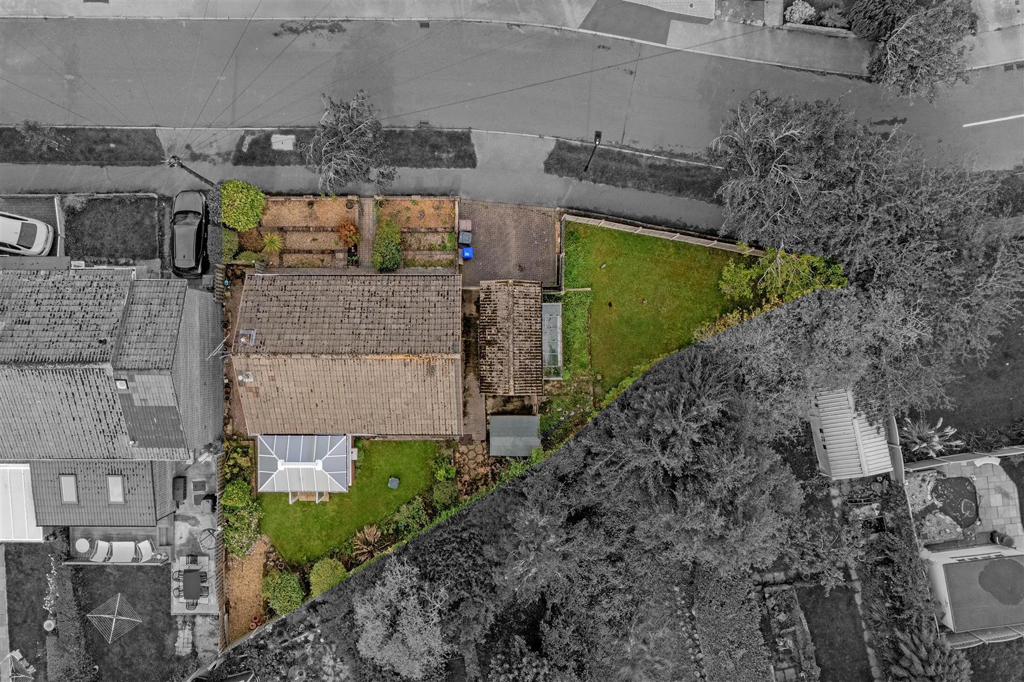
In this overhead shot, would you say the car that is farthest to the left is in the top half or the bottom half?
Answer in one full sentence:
The car that is farthest to the left sits in the top half of the picture.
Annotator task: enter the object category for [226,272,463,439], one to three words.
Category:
house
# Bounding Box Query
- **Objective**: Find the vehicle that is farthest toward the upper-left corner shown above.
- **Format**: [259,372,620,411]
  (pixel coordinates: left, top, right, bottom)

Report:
[0,212,58,257]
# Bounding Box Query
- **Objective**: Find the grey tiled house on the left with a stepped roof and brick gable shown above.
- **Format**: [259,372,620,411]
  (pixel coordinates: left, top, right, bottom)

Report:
[0,257,218,460]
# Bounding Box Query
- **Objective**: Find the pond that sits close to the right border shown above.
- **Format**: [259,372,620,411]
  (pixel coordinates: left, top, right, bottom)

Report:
[931,476,977,528]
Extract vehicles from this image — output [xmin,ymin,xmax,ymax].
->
[0,212,58,257]
[167,190,213,278]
